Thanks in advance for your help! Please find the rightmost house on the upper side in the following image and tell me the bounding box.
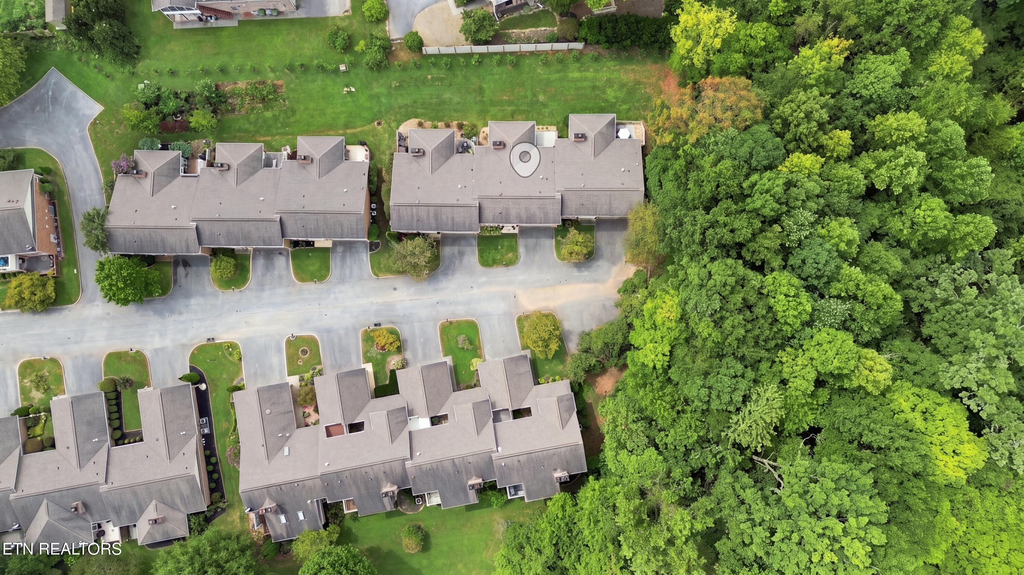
[554,113,644,221]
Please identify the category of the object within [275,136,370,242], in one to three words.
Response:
house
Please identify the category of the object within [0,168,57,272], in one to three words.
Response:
house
